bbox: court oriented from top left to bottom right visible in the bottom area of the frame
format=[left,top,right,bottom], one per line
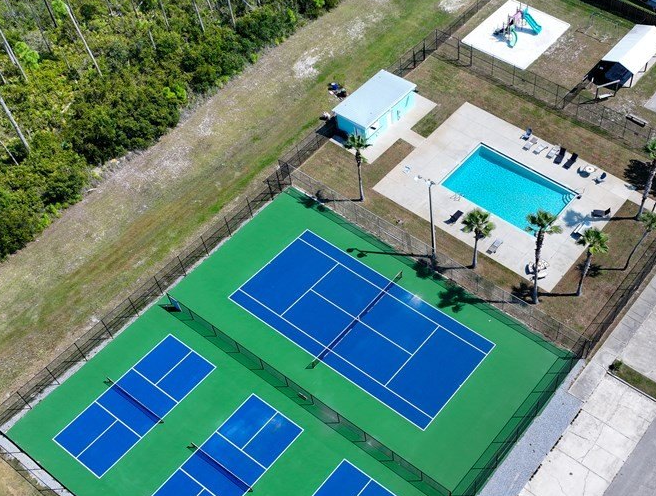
[161,186,580,496]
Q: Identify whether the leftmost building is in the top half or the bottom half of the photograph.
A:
top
